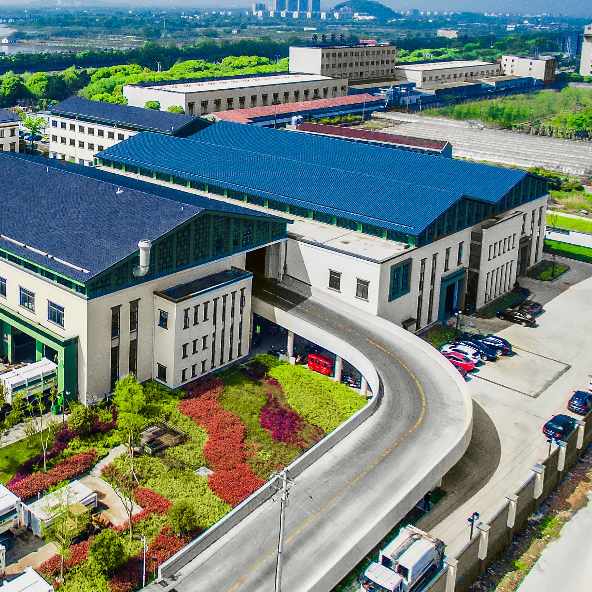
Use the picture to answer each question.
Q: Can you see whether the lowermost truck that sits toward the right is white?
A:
Yes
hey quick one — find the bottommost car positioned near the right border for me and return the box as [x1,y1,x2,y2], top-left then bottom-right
[544,408,578,438]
